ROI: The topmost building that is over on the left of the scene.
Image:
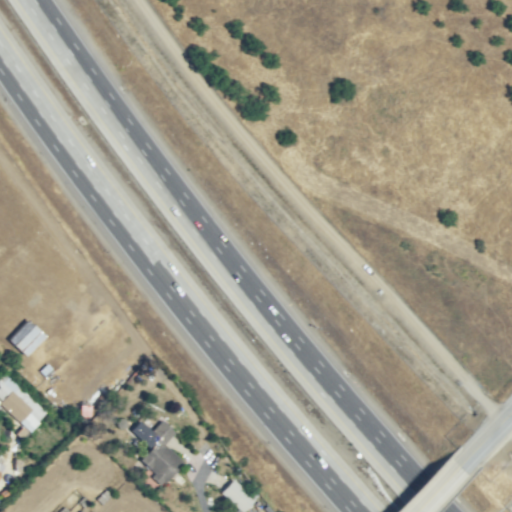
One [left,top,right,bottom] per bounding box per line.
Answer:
[12,321,46,356]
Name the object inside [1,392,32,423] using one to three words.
house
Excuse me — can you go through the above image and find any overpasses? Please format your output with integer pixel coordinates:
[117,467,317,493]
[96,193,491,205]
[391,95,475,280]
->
[401,457,475,512]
